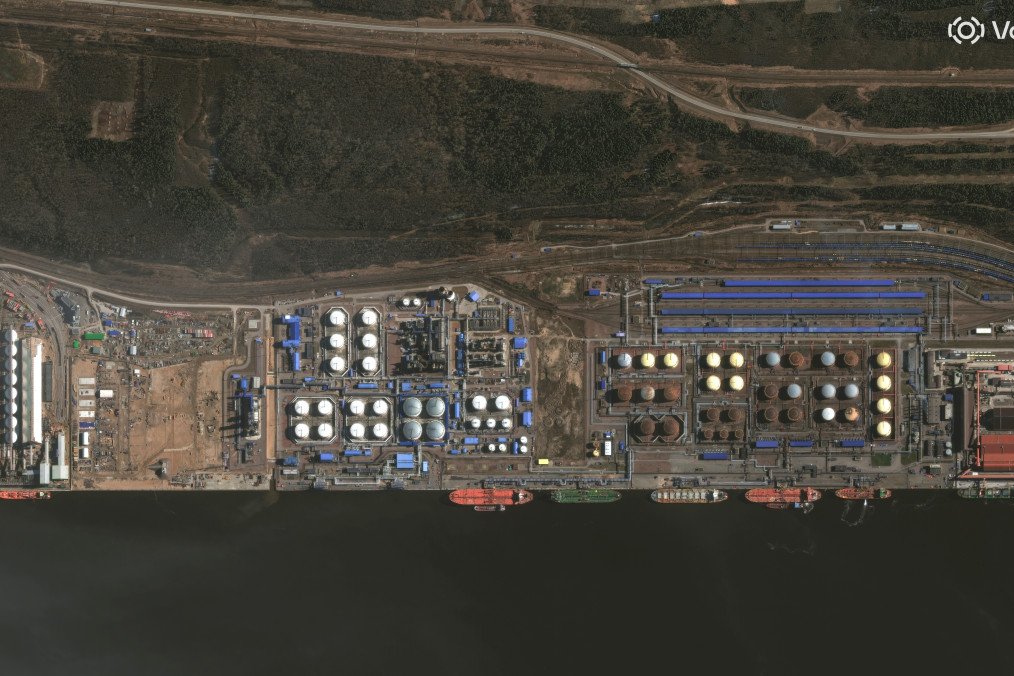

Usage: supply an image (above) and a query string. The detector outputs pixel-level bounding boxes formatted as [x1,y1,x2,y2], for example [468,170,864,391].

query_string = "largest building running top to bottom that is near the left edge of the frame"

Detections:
[22,338,42,443]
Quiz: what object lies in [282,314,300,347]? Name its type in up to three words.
building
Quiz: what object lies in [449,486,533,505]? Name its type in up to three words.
ship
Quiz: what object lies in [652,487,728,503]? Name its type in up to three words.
ship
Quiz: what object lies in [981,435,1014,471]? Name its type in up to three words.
shed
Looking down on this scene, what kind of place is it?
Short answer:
port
